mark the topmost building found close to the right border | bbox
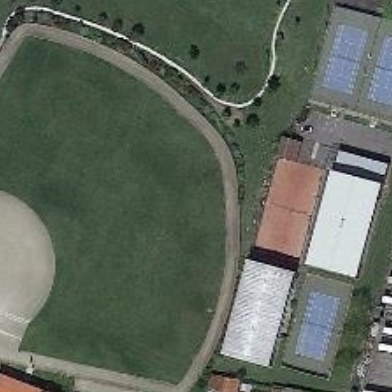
[333,149,387,176]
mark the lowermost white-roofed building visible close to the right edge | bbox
[304,169,381,278]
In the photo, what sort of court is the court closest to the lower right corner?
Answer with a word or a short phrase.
tennis court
